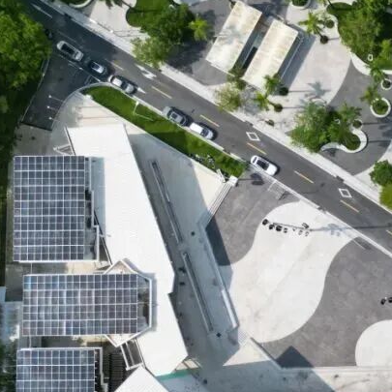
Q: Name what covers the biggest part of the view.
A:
paved ground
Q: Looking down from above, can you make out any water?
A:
No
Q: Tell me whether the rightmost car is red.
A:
No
